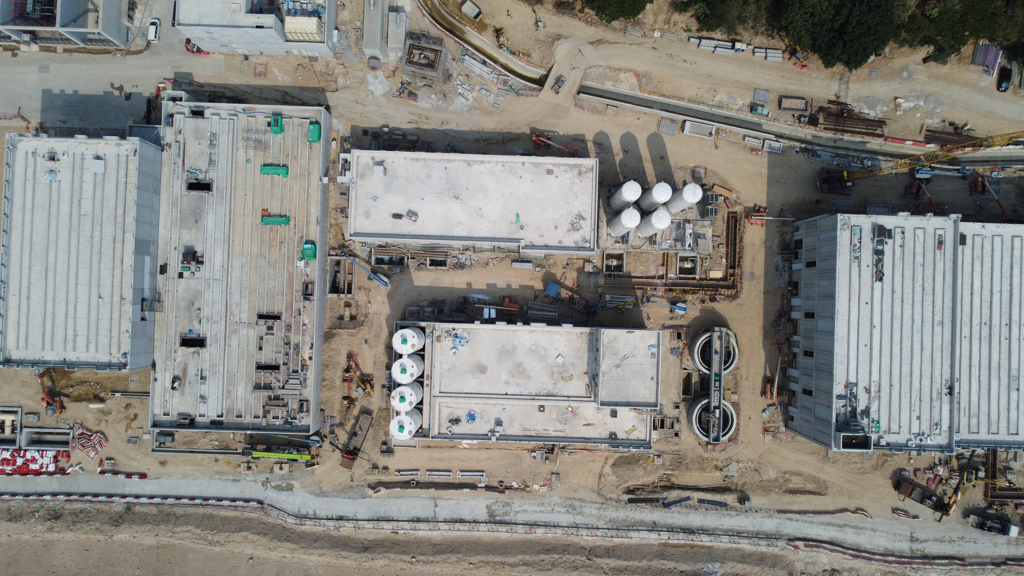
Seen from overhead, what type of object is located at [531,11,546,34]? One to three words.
work vehicle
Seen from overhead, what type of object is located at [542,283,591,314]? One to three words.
truck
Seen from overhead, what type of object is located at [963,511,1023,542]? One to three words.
truck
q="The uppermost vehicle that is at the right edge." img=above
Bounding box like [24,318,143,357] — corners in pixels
[995,65,1013,93]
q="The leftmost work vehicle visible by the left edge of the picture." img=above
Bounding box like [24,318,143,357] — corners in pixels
[29,371,70,420]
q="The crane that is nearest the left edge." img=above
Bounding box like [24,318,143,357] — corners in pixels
[238,445,318,472]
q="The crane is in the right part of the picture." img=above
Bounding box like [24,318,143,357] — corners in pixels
[814,136,1024,197]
